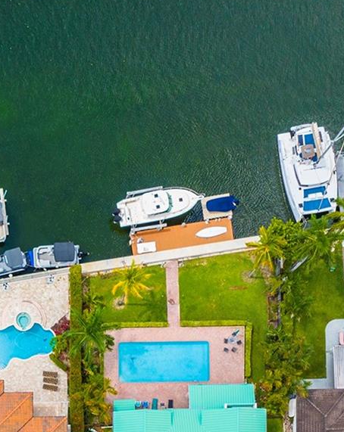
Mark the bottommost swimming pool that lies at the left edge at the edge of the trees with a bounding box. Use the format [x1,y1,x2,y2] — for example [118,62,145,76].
[0,325,57,372]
